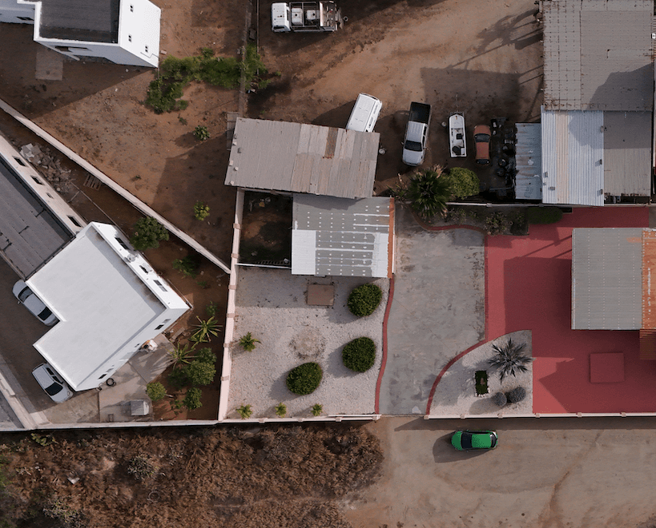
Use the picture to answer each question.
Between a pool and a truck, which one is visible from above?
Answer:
truck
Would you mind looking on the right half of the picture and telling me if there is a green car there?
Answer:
Yes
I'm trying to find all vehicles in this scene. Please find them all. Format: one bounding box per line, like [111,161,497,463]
[470,124,493,166]
[269,0,342,32]
[26,361,74,406]
[401,100,432,167]
[10,280,60,332]
[343,92,380,131]
[452,429,499,453]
